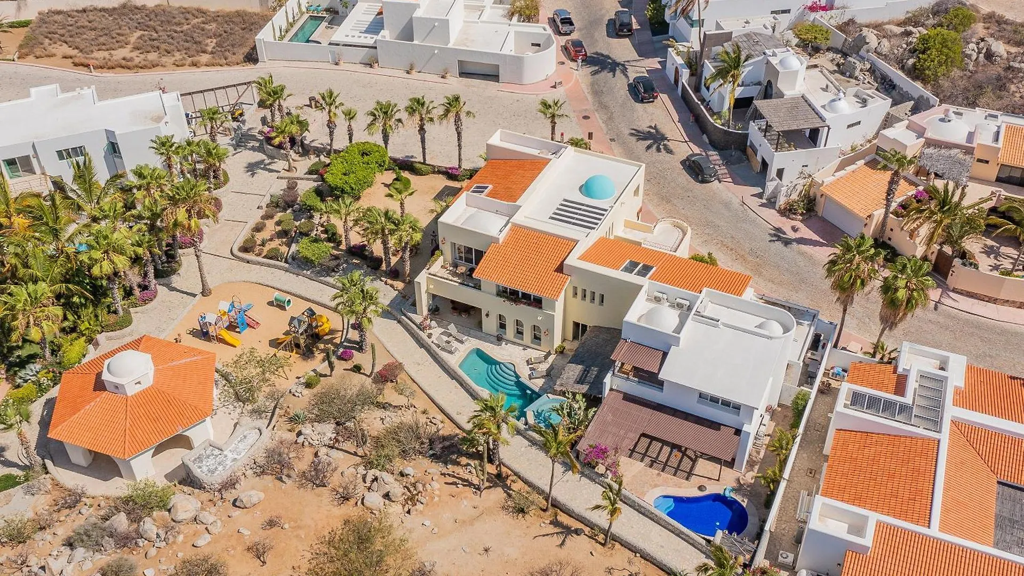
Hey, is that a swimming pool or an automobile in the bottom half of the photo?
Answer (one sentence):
You can see a swimming pool in the bottom half of the photo.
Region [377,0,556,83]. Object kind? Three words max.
house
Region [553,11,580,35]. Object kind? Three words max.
truck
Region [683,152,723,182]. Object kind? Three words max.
car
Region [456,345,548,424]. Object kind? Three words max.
swimming pool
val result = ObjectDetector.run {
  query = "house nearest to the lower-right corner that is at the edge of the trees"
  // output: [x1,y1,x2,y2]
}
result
[794,342,1024,576]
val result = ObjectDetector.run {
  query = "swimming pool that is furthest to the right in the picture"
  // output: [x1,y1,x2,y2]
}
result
[644,485,759,545]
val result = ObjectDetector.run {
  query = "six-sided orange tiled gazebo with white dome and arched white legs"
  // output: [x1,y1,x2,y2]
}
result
[47,333,217,486]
